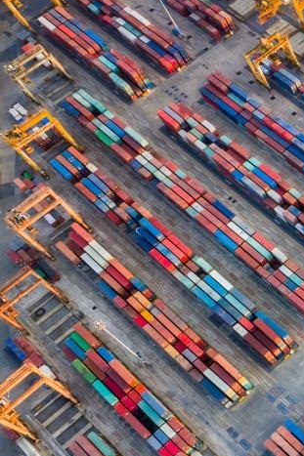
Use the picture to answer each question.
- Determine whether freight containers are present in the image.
Yes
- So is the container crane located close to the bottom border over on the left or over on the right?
left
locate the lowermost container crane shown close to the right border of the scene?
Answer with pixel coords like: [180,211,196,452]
[241,26,301,89]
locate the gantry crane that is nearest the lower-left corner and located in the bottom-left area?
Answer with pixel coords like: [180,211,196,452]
[0,370,83,446]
